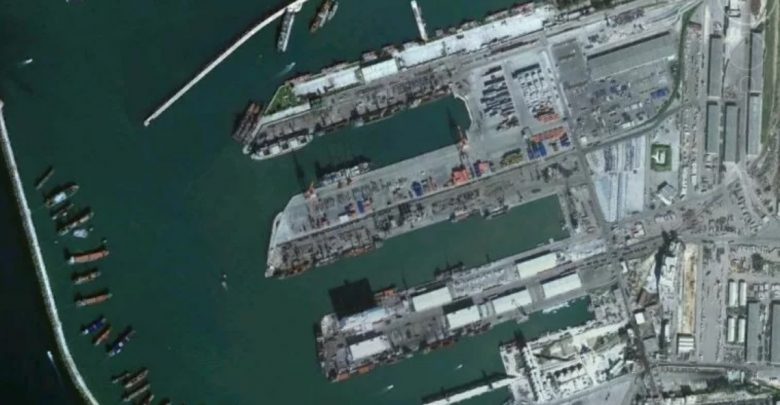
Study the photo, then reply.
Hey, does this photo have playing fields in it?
No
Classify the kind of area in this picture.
port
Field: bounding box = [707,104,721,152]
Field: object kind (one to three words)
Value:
building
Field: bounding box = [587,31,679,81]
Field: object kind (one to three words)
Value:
building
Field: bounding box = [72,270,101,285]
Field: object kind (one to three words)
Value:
ship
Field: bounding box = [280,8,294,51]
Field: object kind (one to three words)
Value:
ship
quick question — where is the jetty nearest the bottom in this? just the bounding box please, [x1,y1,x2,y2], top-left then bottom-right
[404,372,508,405]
